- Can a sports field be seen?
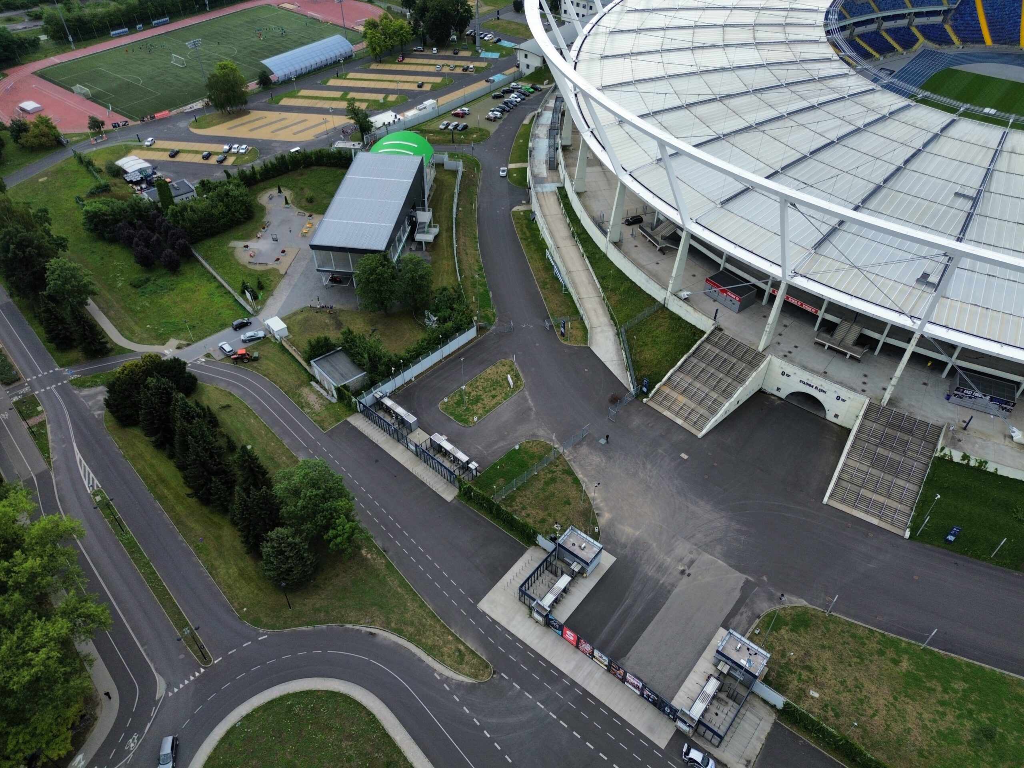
Yes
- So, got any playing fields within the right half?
Yes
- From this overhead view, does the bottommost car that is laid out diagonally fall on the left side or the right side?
right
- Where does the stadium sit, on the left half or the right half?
right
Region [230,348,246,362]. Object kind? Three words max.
work vehicle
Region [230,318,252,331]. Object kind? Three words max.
vehicle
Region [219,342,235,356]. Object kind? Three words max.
car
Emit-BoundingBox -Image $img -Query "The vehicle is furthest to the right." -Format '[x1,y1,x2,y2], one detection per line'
[679,739,715,768]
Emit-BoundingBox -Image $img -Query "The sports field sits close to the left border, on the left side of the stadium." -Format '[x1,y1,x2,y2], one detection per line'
[32,2,357,122]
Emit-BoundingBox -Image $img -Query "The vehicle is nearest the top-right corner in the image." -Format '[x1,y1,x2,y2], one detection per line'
[625,213,645,225]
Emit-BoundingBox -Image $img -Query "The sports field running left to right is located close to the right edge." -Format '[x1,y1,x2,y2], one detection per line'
[909,68,1024,131]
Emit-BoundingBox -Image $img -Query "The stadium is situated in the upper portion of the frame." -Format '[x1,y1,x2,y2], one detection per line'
[525,0,1024,439]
